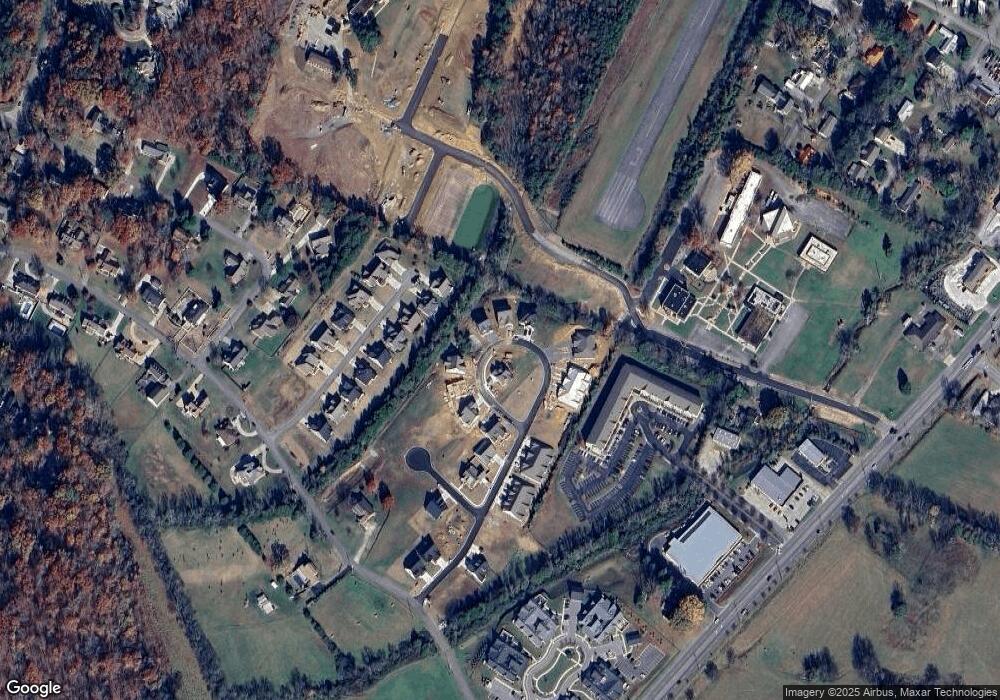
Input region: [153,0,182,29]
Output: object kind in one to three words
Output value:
house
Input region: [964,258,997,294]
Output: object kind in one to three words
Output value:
building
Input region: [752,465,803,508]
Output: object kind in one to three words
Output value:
building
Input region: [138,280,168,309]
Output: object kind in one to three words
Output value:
house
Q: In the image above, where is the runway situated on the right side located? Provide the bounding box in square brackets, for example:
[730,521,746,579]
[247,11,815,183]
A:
[597,0,724,226]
